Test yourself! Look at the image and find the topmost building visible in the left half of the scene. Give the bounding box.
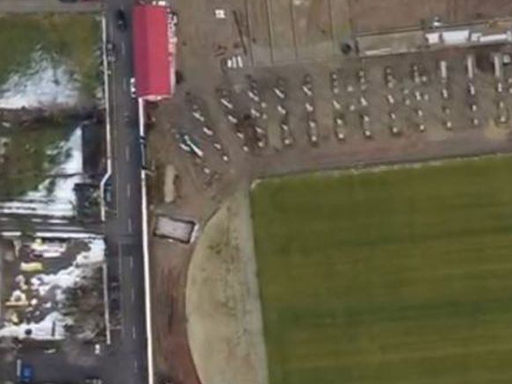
[130,0,182,100]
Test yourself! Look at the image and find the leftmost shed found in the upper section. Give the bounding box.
[81,125,110,175]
